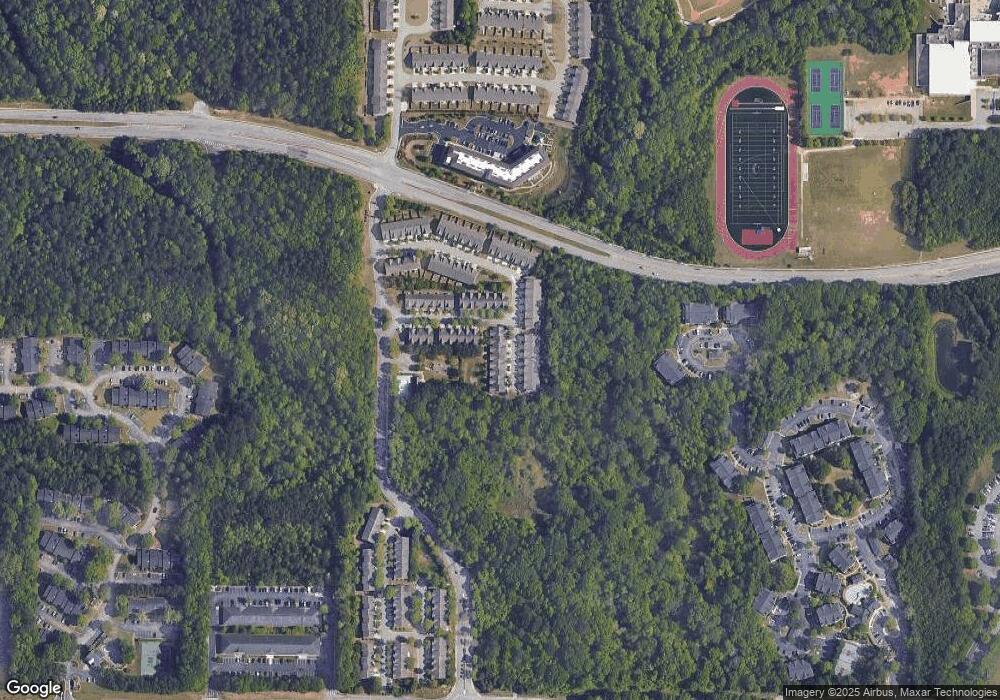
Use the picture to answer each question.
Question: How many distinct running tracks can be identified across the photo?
1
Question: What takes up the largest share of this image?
trees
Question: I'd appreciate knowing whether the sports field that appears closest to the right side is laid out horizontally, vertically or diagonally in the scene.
vertically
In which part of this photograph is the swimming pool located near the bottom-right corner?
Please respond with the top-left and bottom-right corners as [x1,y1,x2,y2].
[843,582,872,604]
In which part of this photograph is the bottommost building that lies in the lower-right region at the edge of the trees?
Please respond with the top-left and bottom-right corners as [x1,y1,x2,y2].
[788,660,813,680]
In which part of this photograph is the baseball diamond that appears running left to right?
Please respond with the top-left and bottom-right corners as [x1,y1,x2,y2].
[676,0,754,25]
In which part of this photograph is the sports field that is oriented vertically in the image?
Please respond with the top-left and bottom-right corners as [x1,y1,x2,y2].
[727,87,788,251]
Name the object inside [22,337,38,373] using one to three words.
building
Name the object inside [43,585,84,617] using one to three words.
building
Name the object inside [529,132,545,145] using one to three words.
swimming pool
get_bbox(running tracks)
[716,76,798,261]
